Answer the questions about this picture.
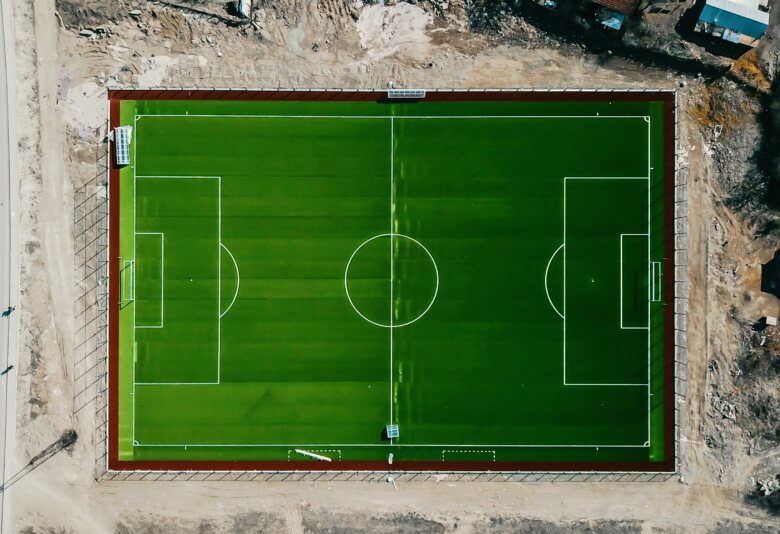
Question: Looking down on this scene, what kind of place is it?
sports ground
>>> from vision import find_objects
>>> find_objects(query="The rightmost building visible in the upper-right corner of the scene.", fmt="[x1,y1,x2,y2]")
[689,0,773,52]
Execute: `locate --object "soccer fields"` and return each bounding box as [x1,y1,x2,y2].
[106,88,677,474]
